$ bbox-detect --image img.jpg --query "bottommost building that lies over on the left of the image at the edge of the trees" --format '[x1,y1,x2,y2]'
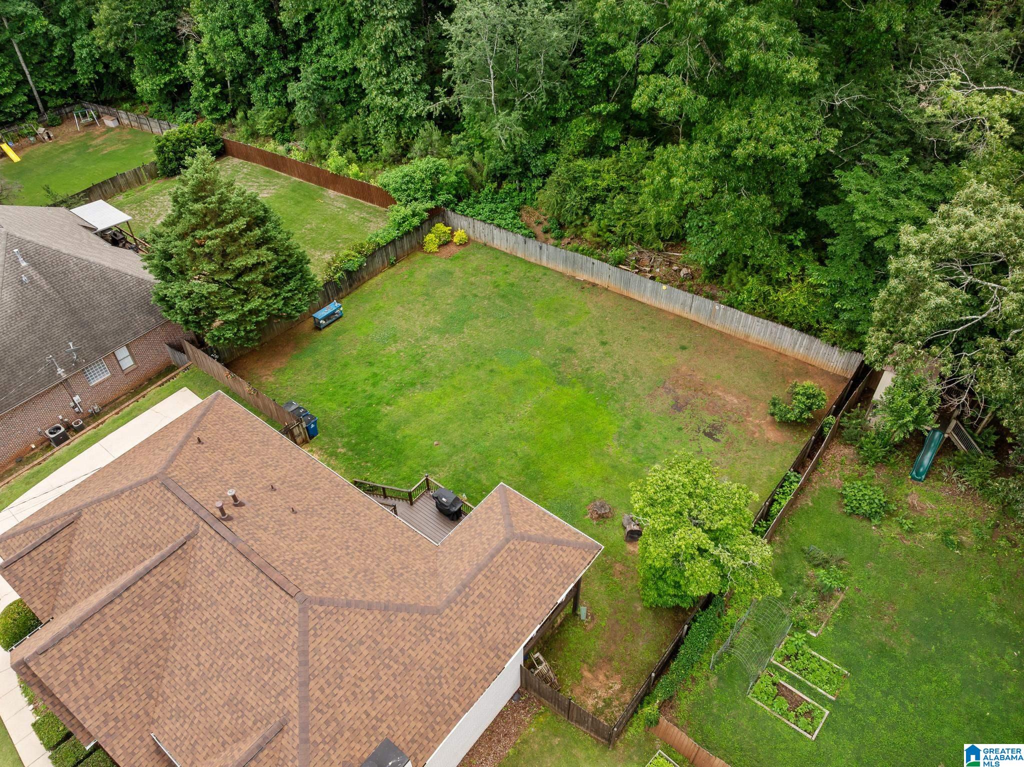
[0,389,606,767]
